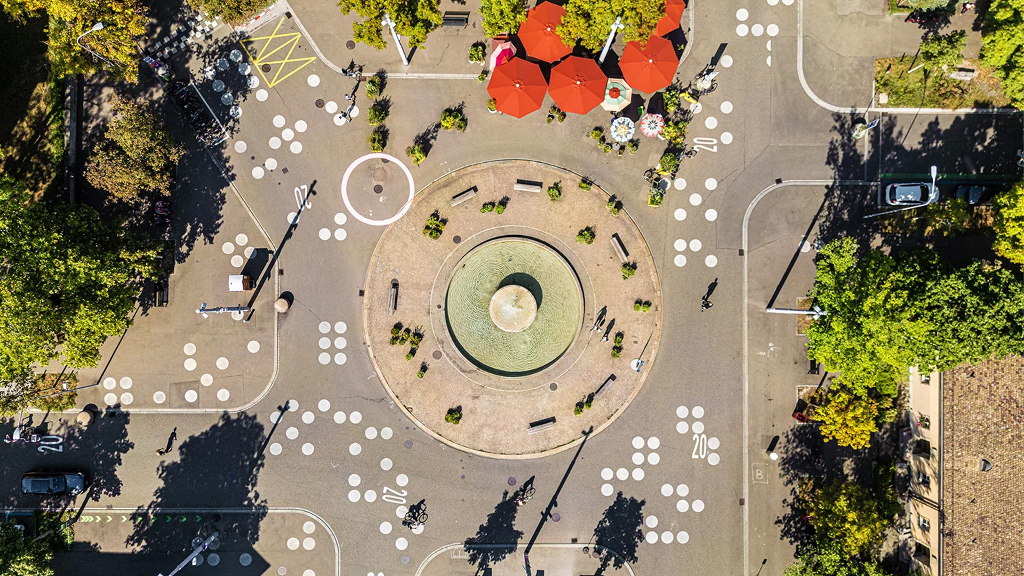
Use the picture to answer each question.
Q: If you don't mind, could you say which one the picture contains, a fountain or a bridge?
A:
fountain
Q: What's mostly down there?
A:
paved ground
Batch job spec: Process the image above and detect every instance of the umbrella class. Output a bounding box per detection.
[487,58,547,119]
[487,43,519,71]
[638,0,689,35]
[602,82,631,110]
[548,57,607,117]
[618,36,679,96]
[518,3,578,63]
[639,115,663,139]
[609,119,634,143]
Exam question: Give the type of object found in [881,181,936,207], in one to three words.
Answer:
car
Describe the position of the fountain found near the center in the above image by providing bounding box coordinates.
[443,237,584,379]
